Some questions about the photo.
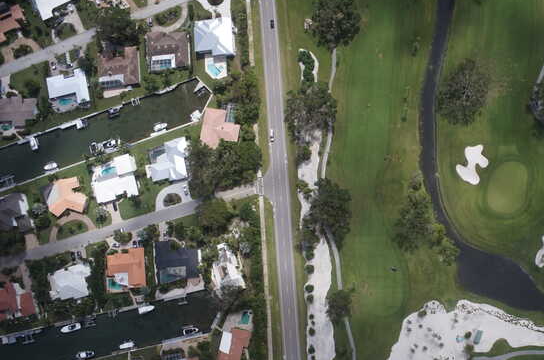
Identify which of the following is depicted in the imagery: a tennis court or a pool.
pool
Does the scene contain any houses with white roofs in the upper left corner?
Yes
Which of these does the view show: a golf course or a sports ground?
golf course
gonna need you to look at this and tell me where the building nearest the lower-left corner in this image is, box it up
[0,283,38,318]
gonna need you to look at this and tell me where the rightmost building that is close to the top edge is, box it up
[193,17,234,57]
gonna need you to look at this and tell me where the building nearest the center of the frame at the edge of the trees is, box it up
[200,106,239,146]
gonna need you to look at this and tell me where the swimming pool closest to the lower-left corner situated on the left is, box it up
[106,276,131,294]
